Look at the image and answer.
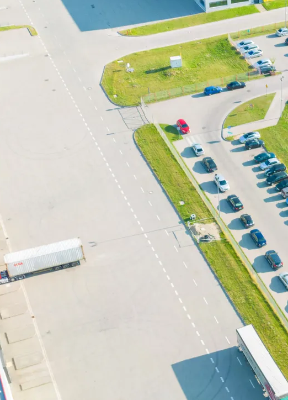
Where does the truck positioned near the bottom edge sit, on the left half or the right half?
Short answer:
right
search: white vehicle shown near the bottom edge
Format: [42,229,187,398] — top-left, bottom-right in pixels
[236,323,288,400]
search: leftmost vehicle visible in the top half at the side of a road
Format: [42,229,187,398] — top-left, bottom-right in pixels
[177,120,190,134]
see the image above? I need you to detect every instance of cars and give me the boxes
[245,50,264,59]
[249,230,269,248]
[215,175,230,192]
[177,120,190,134]
[227,195,245,212]
[236,40,256,50]
[263,163,288,177]
[202,157,219,174]
[255,58,272,68]
[276,28,288,37]
[264,251,285,272]
[258,65,278,74]
[279,185,288,199]
[275,178,288,190]
[241,44,260,54]
[252,152,277,164]
[192,144,205,156]
[266,170,288,184]
[203,85,223,97]
[225,82,247,92]
[244,140,265,151]
[241,215,256,230]
[238,132,262,143]
[278,272,288,291]
[258,158,283,170]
